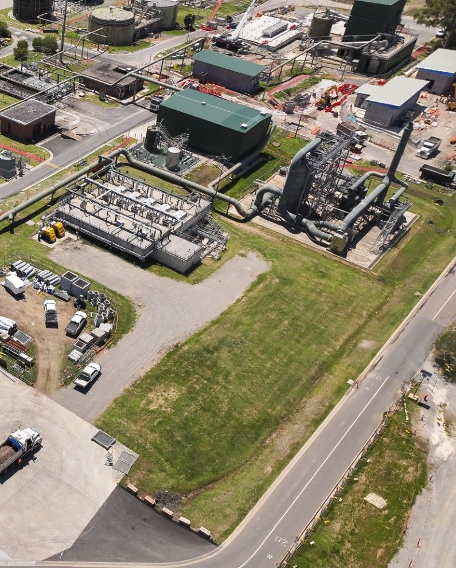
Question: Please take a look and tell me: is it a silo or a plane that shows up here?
silo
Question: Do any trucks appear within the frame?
Yes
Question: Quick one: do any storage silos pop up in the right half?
Yes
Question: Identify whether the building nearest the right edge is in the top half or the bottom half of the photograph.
top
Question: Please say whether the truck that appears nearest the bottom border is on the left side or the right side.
left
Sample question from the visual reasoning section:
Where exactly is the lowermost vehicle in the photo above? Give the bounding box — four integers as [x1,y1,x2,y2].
[0,431,42,482]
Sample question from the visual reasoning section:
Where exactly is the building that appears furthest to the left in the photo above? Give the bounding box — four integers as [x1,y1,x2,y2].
[0,99,59,139]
